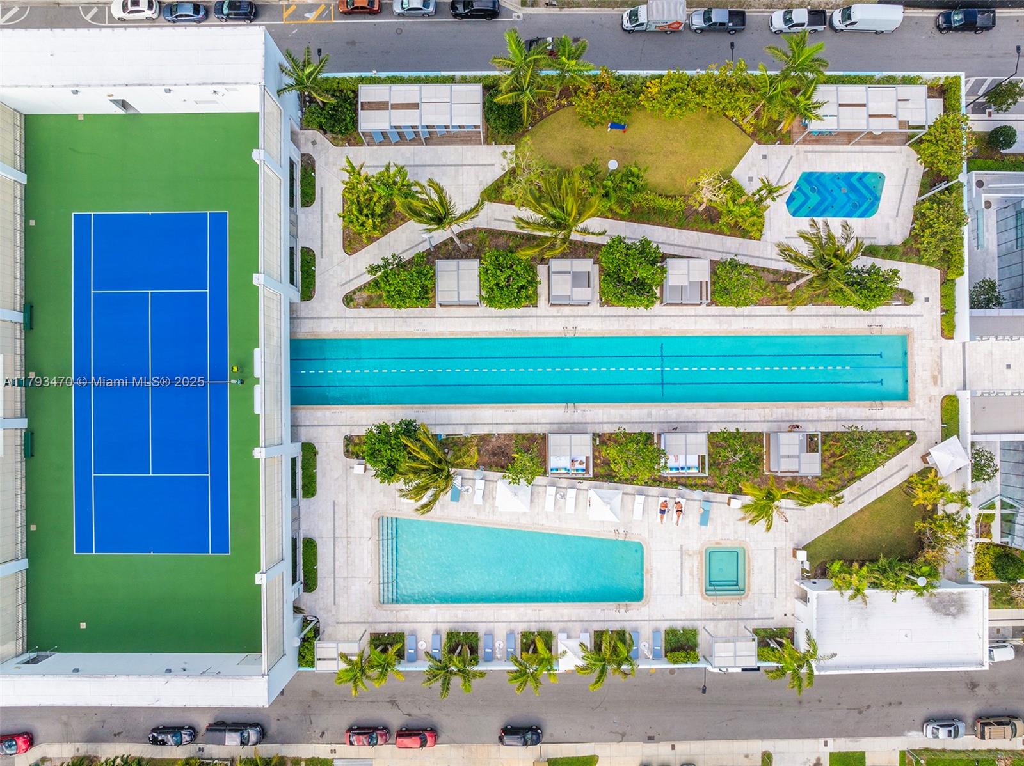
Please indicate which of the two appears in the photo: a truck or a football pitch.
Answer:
truck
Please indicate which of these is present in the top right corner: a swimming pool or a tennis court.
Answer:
swimming pool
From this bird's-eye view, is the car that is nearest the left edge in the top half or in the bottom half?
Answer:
bottom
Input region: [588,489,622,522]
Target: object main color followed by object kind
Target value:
white umbrella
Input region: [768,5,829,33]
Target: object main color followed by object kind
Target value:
white truck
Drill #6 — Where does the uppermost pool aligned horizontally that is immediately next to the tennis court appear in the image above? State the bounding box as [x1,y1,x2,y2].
[290,326,917,413]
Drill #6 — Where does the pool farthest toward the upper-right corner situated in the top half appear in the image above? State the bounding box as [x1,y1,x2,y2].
[785,170,887,219]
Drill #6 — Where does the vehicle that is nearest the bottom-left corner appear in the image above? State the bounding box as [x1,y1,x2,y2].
[0,731,34,756]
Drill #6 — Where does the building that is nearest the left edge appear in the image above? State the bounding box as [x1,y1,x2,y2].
[0,25,300,707]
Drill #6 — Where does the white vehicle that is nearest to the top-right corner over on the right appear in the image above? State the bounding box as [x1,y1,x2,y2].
[830,0,909,32]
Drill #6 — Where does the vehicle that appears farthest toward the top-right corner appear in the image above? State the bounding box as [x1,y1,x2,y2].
[934,5,998,33]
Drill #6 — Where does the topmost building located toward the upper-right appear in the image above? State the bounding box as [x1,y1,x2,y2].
[793,85,927,145]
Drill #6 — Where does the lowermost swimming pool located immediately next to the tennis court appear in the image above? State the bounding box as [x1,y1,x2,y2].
[370,508,652,612]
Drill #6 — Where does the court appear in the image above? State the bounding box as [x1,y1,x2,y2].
[25,113,276,653]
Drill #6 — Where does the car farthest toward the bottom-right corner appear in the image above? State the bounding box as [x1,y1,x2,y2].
[973,718,1024,744]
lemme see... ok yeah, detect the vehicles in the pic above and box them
[973,718,1024,744]
[392,0,437,17]
[338,0,382,15]
[111,0,161,19]
[451,0,500,20]
[148,727,198,751]
[395,729,438,754]
[499,727,542,752]
[934,5,998,33]
[163,0,208,23]
[204,723,265,750]
[0,731,34,756]
[622,0,692,32]
[345,728,391,752]
[768,5,829,33]
[990,642,1017,663]
[688,5,747,33]
[213,0,258,21]
[830,0,909,32]
[921,720,965,745]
